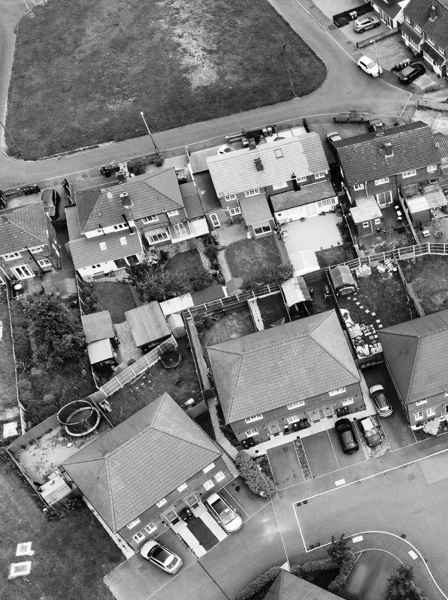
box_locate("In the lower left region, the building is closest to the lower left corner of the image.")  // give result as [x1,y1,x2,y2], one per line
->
[40,475,75,507]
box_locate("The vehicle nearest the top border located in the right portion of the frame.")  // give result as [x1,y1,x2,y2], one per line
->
[352,16,382,32]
